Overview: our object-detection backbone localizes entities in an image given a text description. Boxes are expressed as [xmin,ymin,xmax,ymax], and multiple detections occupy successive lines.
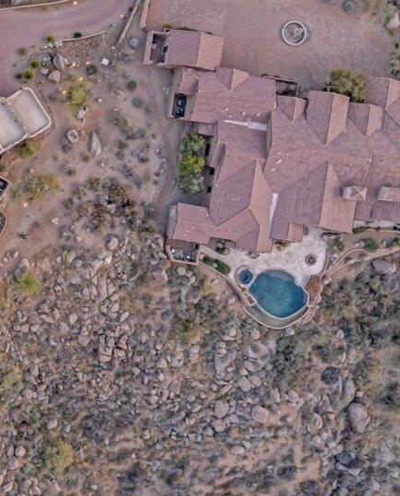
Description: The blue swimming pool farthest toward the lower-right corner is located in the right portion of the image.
[247,268,309,319]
